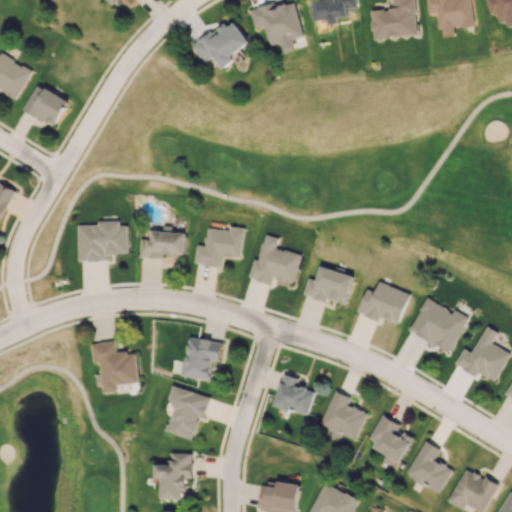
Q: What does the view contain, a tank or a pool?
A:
pool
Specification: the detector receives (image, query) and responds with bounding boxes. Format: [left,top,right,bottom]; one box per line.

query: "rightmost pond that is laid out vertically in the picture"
[9,392,61,512]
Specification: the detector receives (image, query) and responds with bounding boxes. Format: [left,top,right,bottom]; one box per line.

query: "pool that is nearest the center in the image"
[134,196,187,232]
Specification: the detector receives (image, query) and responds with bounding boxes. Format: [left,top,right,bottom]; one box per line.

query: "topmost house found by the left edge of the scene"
[0,49,32,99]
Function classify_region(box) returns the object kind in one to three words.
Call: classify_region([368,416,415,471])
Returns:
house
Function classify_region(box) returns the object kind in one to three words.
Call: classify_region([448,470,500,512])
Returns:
house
